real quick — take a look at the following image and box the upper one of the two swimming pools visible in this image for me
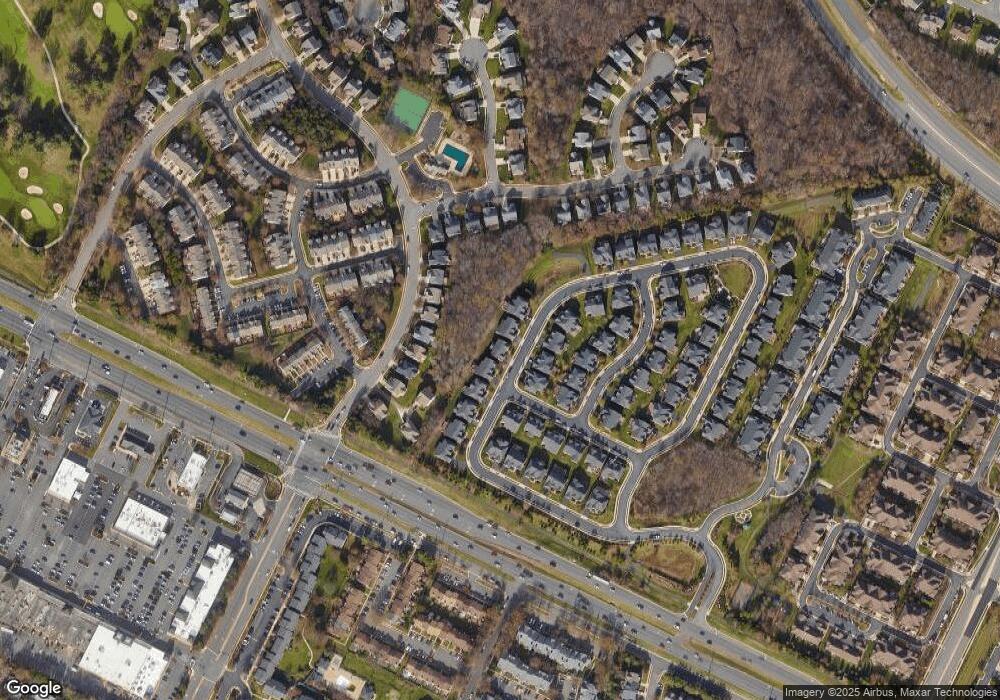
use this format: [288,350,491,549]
[436,139,475,178]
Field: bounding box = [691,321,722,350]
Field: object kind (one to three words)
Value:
house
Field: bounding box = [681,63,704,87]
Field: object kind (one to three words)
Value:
house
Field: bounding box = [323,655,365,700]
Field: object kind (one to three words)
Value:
swimming pool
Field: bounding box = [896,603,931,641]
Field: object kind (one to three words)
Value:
building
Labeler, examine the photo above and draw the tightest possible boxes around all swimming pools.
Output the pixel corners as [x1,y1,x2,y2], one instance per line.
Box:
[323,655,365,700]
[436,139,475,178]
